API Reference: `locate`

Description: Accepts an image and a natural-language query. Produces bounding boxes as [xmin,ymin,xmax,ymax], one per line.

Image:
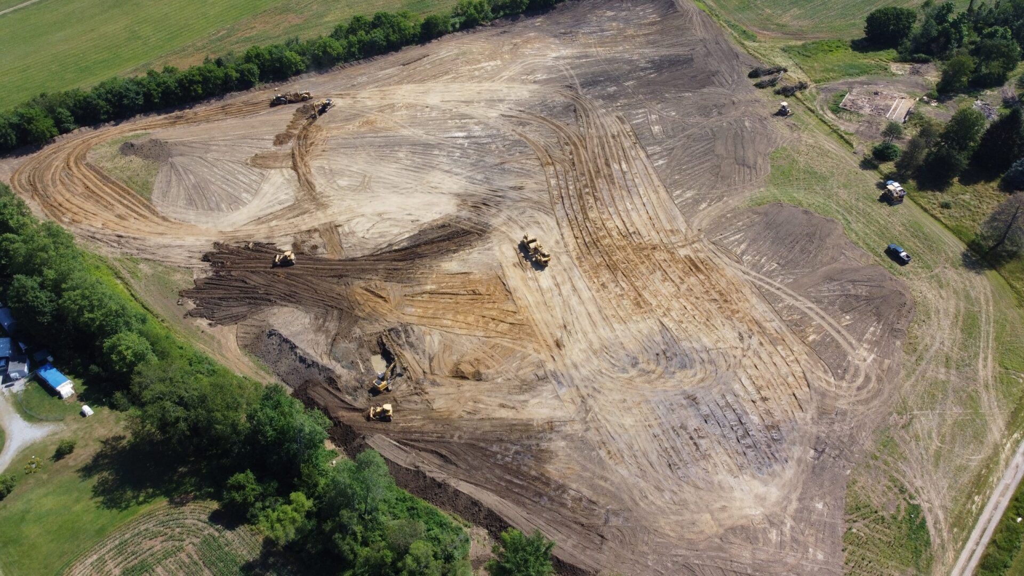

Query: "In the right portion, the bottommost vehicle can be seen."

[883,242,916,263]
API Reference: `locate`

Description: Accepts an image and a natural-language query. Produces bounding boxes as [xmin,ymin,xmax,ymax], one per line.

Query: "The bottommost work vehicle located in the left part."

[367,405,392,425]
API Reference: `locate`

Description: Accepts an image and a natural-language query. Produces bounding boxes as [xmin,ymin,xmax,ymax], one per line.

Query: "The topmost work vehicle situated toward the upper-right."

[778,100,795,117]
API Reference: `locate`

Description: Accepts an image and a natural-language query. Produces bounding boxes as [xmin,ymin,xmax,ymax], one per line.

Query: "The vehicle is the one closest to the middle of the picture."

[369,363,404,398]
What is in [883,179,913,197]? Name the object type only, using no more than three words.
vehicle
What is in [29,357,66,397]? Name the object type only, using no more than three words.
shed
